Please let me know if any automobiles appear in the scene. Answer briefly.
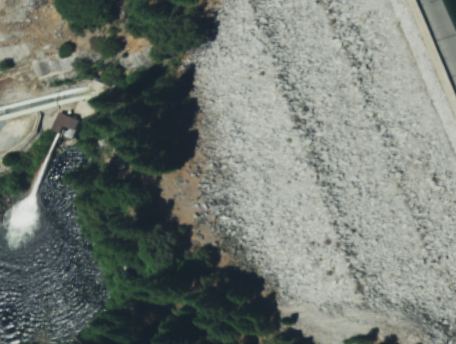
No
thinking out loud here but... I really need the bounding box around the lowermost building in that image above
[50,112,78,140]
